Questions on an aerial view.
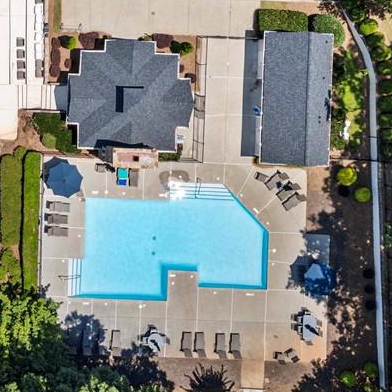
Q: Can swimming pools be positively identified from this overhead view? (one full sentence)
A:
Yes, there's a swimming pool here.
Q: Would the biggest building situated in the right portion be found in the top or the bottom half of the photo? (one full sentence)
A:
It is in the top half that the biggest building situated in the right portion appears.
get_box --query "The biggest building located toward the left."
[66,38,196,155]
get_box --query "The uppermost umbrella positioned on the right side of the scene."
[300,260,333,294]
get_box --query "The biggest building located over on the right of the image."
[254,31,335,169]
